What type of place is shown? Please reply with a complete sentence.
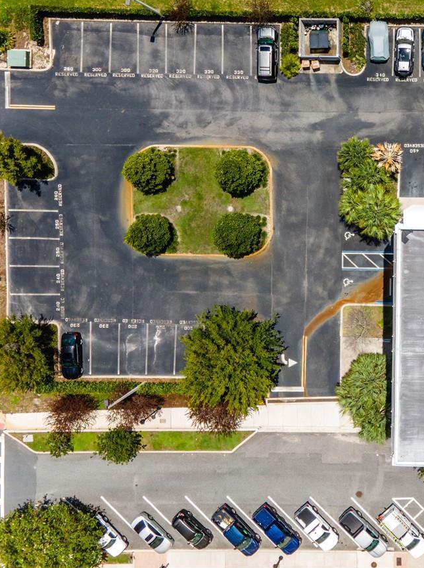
This looks like a parking lot.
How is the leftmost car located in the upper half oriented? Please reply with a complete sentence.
Seen from above, the leftmost car located in the upper half lies up and down.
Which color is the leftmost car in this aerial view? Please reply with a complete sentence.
The color of the leftmost car is black.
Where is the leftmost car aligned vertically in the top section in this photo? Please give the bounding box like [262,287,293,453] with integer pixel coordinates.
[253,27,279,82]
